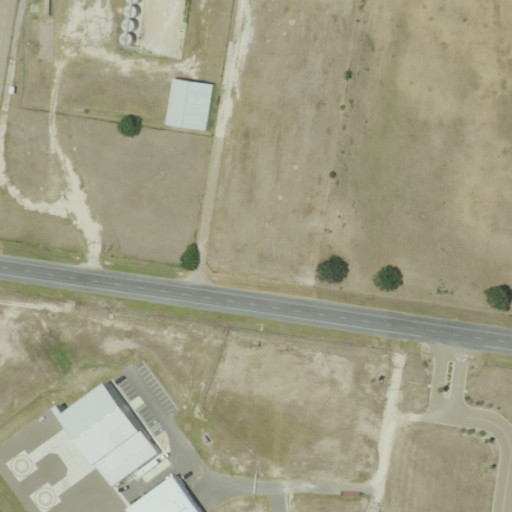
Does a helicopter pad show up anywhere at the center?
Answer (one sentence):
No, there's no helicopter pad to be seen at the center.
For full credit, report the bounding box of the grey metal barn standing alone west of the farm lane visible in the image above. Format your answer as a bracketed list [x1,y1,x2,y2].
[166,78,214,130]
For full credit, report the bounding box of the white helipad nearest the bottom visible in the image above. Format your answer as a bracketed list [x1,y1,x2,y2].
[30,482,62,512]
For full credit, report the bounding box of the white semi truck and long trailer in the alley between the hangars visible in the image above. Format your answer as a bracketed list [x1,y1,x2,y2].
[135,453,170,476]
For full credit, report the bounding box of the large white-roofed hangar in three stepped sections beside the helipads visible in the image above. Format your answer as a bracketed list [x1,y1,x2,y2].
[52,382,160,486]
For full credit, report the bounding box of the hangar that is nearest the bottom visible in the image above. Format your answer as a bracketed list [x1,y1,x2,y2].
[126,472,204,512]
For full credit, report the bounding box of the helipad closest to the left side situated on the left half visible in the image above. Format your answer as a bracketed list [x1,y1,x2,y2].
[6,450,38,482]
